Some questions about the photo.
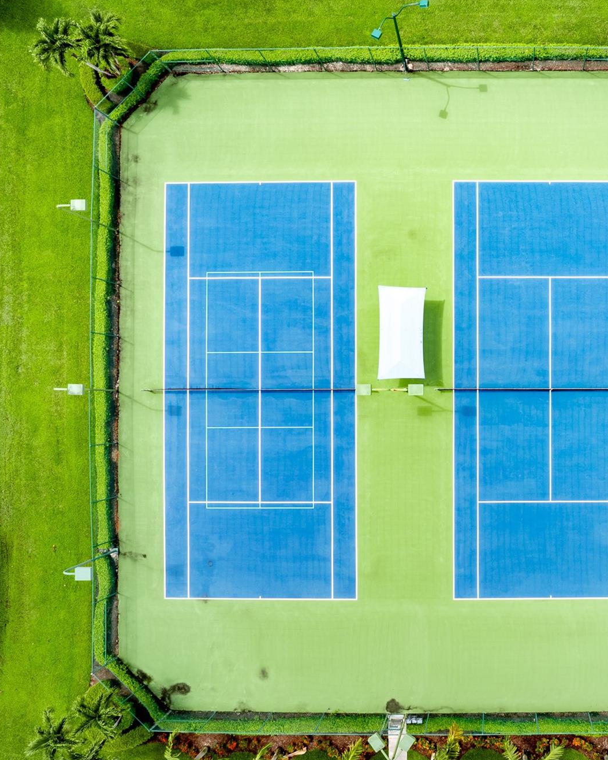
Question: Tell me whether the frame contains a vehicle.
No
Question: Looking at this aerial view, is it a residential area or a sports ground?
sports ground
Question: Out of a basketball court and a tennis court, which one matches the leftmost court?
tennis court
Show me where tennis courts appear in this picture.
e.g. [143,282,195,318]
[453,181,608,599]
[164,182,356,600]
